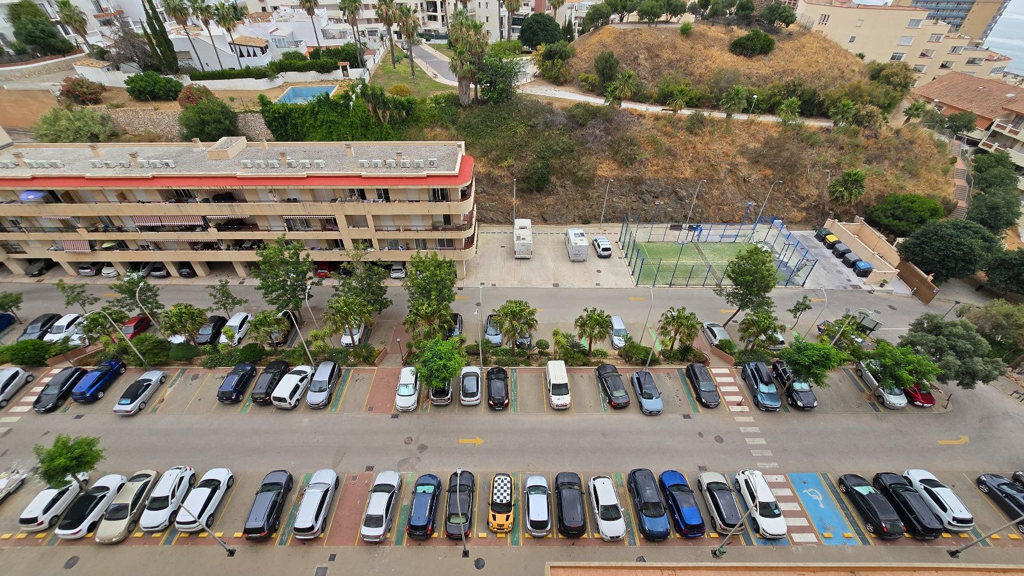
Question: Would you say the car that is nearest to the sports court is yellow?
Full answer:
No, the car that is nearest to the sports court is actually white.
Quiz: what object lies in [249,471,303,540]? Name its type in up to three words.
car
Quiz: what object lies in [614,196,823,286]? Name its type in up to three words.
sports court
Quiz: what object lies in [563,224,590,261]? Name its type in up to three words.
camper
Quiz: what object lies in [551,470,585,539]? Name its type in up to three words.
car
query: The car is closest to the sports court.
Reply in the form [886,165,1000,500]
[592,235,613,258]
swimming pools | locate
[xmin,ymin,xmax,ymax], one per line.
[274,85,336,103]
